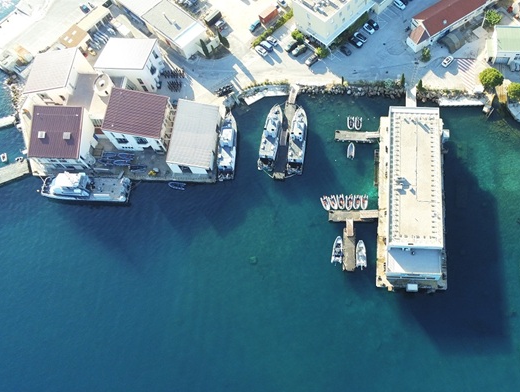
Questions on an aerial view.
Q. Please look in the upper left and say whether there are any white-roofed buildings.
Yes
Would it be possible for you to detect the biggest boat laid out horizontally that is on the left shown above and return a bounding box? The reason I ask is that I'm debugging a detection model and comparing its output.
[40,175,133,207]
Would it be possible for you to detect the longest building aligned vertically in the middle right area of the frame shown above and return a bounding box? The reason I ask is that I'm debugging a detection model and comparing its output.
[377,105,448,297]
